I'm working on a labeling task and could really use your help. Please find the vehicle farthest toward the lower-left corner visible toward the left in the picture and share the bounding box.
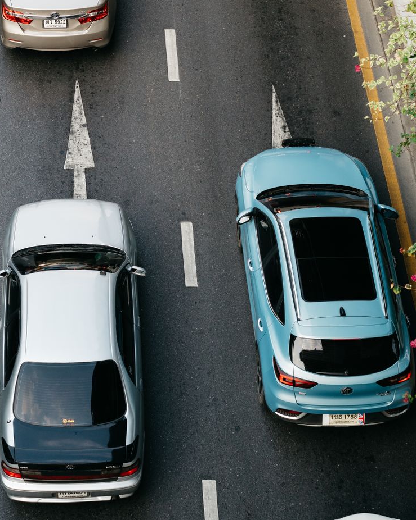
[0,204,148,499]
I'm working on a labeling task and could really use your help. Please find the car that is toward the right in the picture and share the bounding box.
[233,148,416,425]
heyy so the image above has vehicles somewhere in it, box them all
[0,204,148,499]
[233,148,416,425]
[0,0,117,49]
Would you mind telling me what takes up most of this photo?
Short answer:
paved ground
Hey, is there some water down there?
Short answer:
No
